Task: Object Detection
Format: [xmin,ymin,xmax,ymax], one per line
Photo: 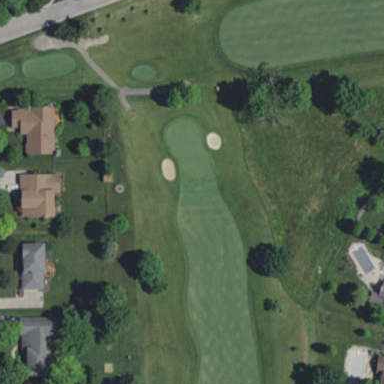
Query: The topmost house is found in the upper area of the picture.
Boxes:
[11,108,55,154]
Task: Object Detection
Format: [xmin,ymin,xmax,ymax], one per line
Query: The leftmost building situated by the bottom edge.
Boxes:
[20,318,52,380]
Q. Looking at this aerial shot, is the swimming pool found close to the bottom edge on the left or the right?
right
